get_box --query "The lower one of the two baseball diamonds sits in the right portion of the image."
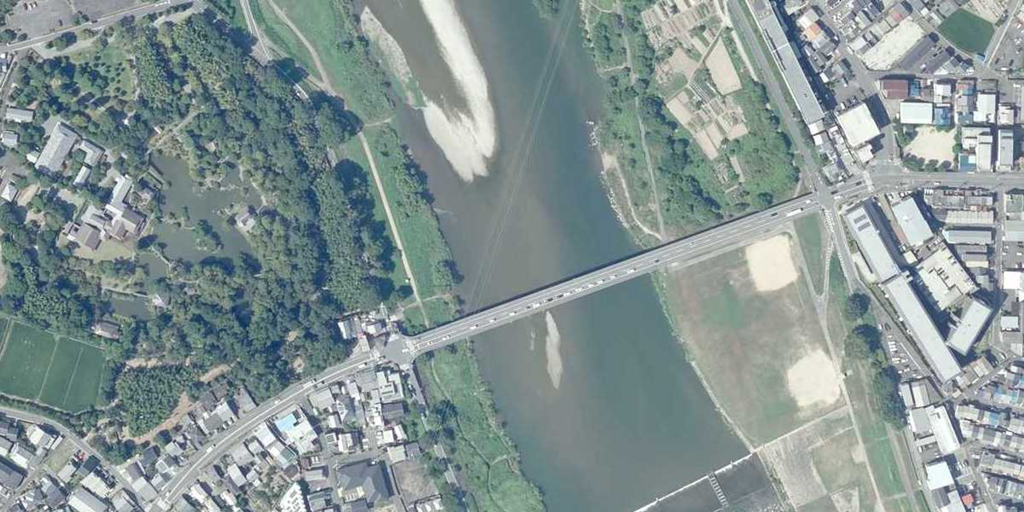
[786,348,841,407]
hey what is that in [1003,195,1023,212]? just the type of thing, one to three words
building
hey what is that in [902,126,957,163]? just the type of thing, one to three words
playground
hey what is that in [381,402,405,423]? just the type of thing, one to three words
house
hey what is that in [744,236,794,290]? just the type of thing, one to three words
baseball field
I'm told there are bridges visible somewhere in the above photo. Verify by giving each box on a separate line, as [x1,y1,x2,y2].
[408,189,824,358]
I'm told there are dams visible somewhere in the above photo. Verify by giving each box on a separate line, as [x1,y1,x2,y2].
[635,453,753,512]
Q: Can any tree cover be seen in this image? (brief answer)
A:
Yes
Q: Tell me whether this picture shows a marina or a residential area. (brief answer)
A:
residential area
